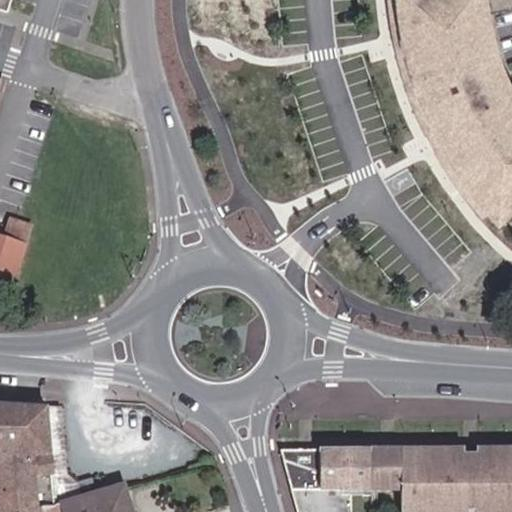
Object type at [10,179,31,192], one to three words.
vehicle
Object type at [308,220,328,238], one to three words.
car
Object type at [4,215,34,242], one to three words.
shed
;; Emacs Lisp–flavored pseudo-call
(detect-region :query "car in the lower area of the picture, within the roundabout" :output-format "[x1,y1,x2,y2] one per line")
[178,392,199,412]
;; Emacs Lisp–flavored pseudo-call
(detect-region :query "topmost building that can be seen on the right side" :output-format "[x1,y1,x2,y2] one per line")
[388,0,512,230]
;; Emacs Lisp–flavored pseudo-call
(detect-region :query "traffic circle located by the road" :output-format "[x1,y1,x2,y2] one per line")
[134,250,304,420]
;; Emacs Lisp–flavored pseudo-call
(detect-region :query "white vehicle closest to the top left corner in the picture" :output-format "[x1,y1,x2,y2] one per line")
[28,128,47,140]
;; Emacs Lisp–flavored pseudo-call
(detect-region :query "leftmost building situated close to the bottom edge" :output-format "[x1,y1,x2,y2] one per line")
[0,403,54,512]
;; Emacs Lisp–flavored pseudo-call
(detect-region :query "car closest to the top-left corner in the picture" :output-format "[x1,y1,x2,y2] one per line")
[30,100,52,114]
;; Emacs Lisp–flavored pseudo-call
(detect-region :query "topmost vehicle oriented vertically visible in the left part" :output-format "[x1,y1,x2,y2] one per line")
[162,107,174,128]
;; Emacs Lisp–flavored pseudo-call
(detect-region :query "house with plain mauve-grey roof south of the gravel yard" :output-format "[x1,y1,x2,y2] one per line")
[57,481,132,512]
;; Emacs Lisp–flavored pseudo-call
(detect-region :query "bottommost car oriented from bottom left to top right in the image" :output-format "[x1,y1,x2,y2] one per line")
[410,290,430,306]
